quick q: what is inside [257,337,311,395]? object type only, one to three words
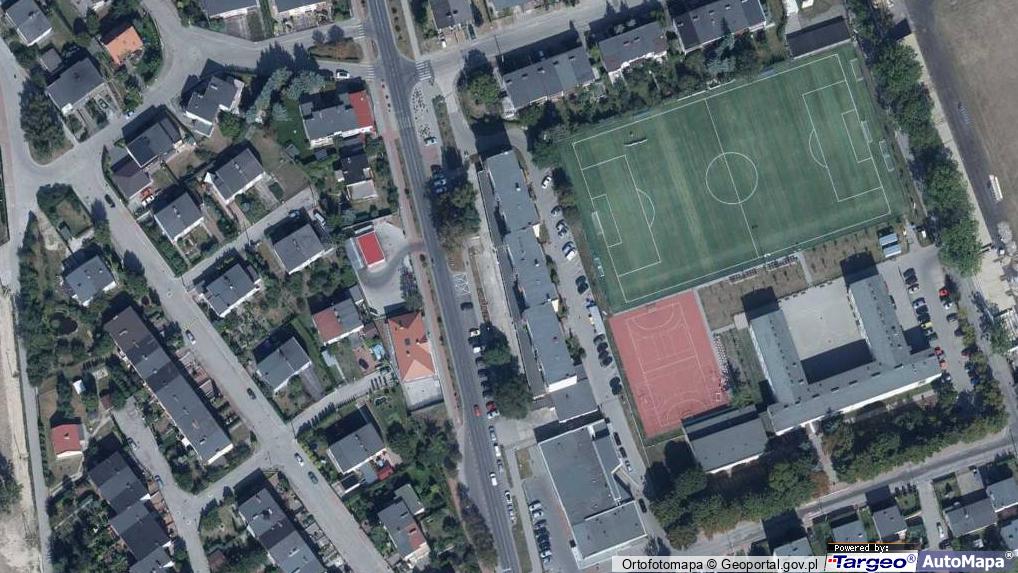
house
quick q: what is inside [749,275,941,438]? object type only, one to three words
building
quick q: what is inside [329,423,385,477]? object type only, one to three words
house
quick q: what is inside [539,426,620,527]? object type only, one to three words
building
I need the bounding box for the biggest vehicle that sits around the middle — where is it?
[589,302,607,333]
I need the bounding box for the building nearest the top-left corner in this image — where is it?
[5,0,53,49]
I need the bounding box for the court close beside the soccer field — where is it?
[609,290,731,438]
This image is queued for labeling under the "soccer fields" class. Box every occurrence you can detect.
[559,40,906,313]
